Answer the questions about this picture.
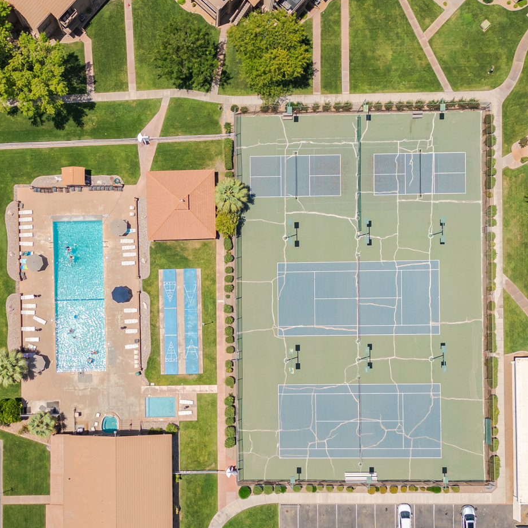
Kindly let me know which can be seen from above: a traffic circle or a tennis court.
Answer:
tennis court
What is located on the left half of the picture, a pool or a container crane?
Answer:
pool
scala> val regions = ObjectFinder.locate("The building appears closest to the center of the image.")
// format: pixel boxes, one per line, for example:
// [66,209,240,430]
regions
[146,169,217,241]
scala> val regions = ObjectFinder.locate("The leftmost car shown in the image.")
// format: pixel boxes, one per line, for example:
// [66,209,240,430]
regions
[398,504,414,528]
